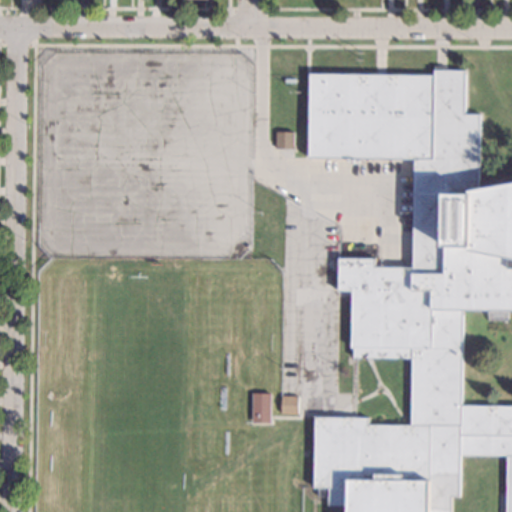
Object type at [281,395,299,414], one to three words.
building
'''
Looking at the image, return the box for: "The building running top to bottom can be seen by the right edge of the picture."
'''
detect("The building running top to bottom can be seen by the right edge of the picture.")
[308,69,512,512]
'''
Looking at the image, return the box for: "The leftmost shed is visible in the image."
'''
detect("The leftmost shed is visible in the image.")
[253,393,272,422]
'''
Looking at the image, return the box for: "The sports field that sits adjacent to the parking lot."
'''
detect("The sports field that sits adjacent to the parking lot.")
[38,258,345,512]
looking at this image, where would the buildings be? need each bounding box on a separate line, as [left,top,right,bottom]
[253,393,272,422]
[281,395,299,414]
[277,132,294,148]
[308,69,512,512]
